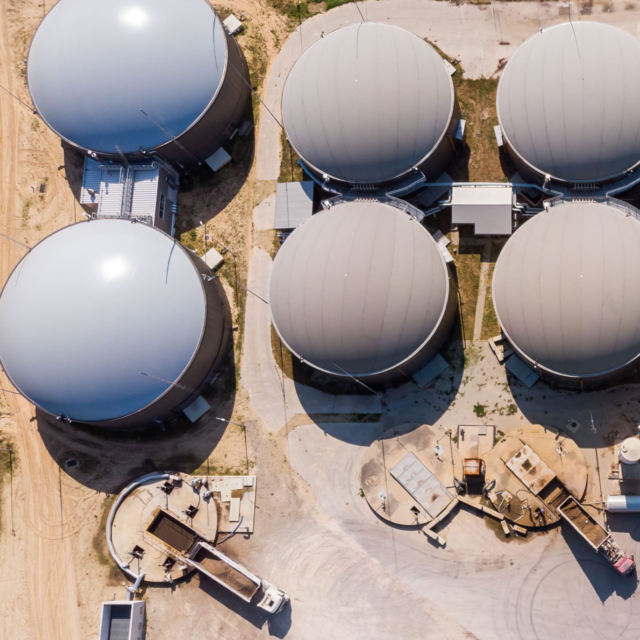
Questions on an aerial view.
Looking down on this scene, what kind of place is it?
industrial area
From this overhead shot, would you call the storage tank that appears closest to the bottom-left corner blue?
No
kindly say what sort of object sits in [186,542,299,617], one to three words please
truck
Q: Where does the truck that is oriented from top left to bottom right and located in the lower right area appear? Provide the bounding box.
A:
[557,495,637,576]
